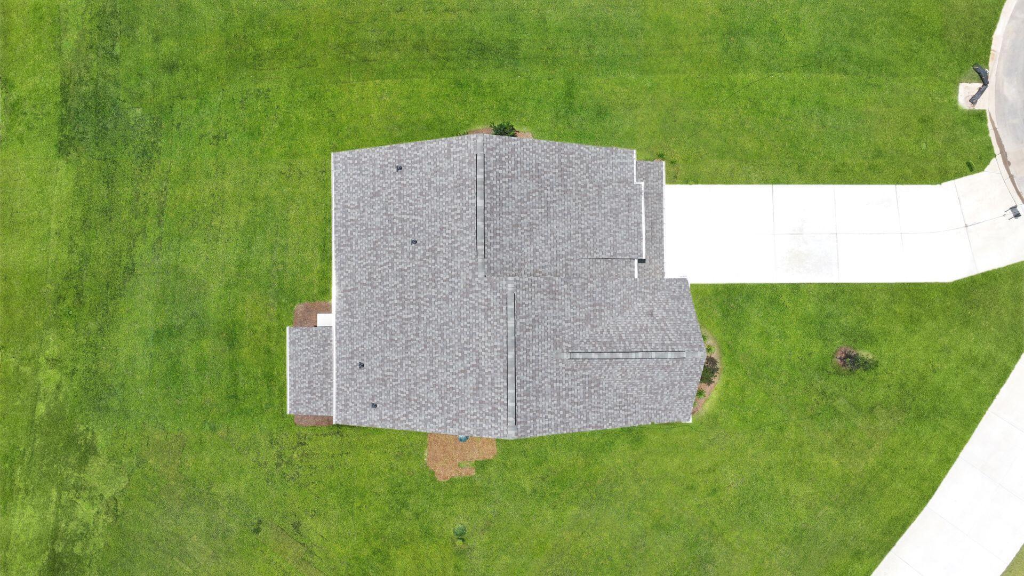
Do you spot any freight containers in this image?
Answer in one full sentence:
No, there is no freight container in the image.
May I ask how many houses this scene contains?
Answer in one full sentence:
There is 1 house in the image.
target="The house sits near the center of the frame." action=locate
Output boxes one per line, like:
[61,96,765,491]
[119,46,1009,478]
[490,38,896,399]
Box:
[286,134,705,439]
